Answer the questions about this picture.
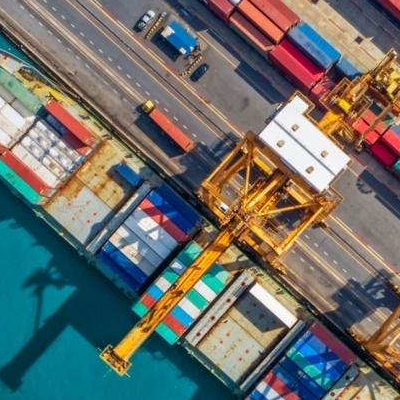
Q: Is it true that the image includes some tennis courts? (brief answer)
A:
No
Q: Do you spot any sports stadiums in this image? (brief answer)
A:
No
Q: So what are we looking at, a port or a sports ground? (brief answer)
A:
port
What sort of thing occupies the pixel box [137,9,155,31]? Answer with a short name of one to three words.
vehicle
